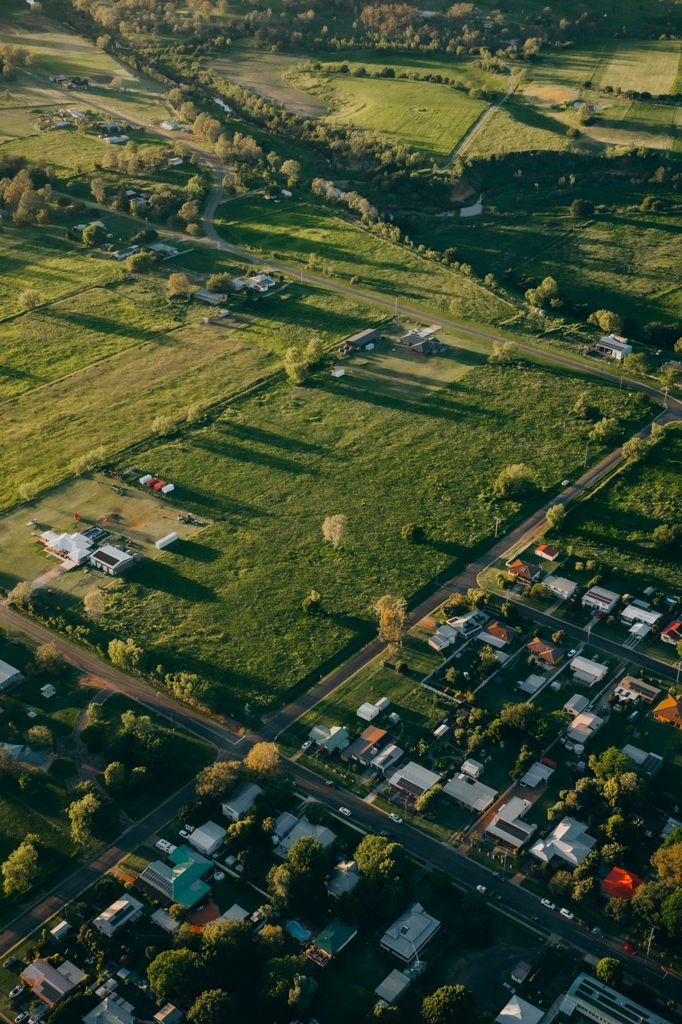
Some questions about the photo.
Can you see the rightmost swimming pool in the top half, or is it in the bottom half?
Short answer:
bottom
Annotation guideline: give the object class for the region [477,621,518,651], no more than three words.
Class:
house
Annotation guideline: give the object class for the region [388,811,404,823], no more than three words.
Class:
vehicle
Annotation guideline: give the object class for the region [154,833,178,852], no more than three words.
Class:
camper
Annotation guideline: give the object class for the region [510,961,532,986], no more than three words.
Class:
shed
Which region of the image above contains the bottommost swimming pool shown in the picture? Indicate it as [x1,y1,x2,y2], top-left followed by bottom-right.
[284,919,312,941]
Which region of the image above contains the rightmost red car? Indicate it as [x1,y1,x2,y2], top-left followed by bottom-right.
[622,942,640,955]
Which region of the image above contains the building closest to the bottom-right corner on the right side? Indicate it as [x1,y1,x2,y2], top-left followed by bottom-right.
[565,972,673,1024]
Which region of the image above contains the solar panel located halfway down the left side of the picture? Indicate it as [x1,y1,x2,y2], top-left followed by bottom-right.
[93,549,120,566]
